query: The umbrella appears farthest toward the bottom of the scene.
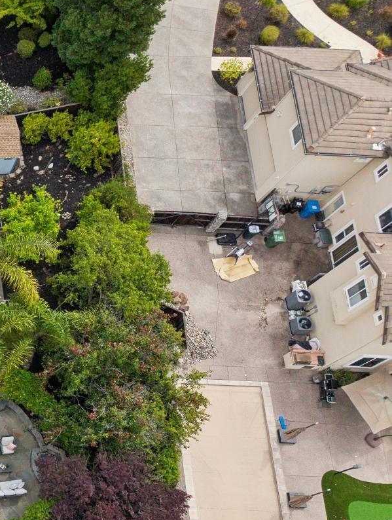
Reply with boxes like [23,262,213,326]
[285,491,326,507]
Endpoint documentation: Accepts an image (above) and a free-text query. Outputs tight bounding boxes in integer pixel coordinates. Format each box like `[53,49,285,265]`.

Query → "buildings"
[235,45,392,371]
[0,116,26,178]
